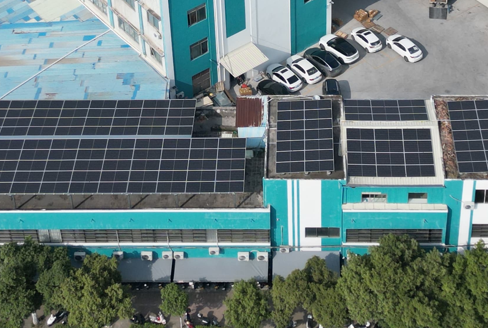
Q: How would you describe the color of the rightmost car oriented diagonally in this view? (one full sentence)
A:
In this view, the rightmost car oriented diagonally is white.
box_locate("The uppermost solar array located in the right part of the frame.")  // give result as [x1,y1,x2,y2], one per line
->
[344,98,429,117]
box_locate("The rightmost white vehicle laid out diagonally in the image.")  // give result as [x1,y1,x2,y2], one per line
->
[384,34,424,64]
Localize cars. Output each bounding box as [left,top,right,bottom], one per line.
[301,46,343,77]
[318,34,359,65]
[322,81,343,95]
[255,78,296,97]
[384,34,424,64]
[284,52,322,83]
[264,61,306,92]
[348,26,385,54]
